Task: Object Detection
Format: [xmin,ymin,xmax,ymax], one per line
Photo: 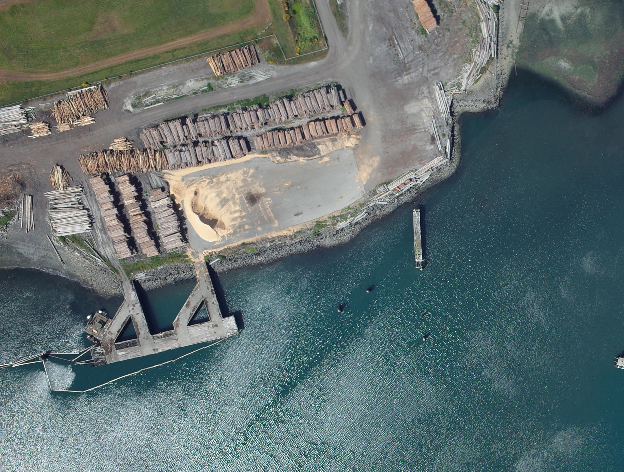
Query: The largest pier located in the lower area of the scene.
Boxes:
[90,261,239,367]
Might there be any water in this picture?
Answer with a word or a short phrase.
Yes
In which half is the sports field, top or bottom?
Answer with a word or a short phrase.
top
